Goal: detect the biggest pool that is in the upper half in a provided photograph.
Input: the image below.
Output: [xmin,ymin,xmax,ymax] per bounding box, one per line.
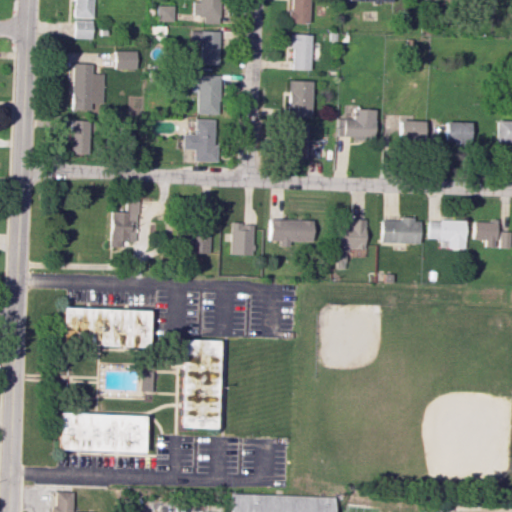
[150,120,184,137]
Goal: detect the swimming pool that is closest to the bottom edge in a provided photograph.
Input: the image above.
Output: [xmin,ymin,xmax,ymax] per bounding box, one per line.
[100,362,146,400]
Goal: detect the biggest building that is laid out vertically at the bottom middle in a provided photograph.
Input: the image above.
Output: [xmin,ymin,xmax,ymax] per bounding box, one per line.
[180,340,224,430]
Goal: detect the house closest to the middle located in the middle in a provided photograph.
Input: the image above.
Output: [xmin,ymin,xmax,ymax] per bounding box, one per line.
[229,222,256,256]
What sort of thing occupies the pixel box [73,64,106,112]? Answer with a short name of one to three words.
house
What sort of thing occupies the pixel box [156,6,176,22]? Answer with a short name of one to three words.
building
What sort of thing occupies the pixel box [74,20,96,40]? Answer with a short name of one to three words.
building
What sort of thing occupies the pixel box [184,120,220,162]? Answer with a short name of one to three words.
house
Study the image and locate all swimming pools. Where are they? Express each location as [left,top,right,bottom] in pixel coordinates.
[150,46,162,60]
[100,362,146,400]
[150,120,184,137]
